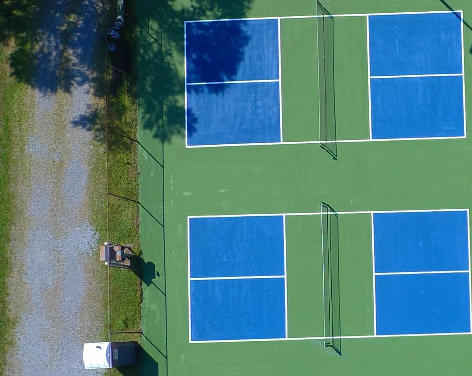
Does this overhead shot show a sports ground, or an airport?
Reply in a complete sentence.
This looks like a sports ground.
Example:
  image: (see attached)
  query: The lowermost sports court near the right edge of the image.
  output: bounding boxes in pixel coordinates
[375,271,472,335]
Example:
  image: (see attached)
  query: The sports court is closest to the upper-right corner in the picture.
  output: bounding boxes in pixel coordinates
[369,12,462,76]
